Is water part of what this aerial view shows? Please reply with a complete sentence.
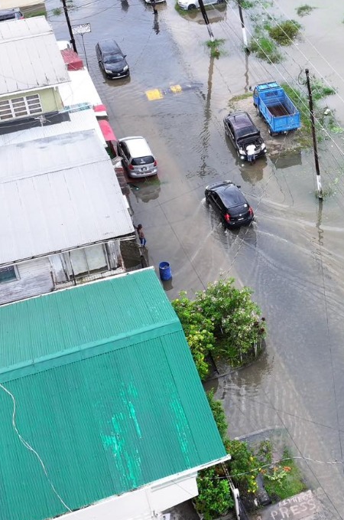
Yes, water shows up in the scene.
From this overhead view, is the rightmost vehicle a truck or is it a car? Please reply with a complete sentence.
The rightmost vehicle is a truck.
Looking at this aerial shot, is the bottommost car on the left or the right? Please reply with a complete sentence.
You can find the bottommost car on the right side of the picture.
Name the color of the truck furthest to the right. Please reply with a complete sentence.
In this view, the truck furthest to the right is blue.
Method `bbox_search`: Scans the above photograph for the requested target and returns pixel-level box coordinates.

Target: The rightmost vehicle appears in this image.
[244,72,303,133]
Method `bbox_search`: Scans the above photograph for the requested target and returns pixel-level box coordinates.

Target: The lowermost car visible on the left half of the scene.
[110,130,155,179]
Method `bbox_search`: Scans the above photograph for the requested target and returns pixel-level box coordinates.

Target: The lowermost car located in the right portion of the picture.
[198,176,256,227]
